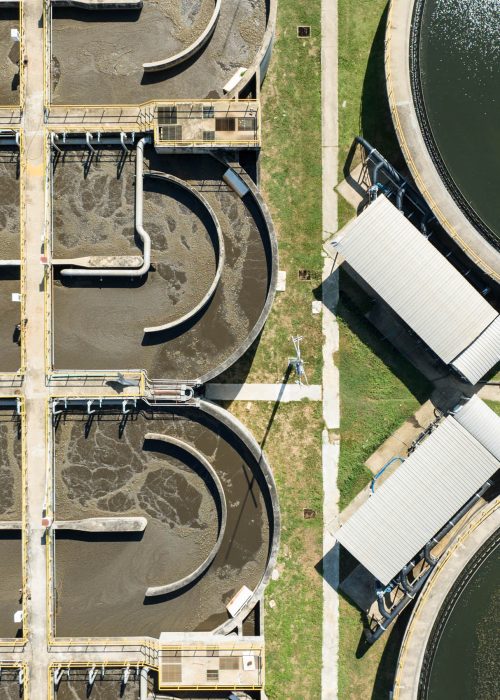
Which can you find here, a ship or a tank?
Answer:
tank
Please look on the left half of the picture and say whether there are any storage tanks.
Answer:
No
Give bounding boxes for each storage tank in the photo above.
[384,0,500,285]
[392,496,500,700]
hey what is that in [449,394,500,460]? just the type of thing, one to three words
building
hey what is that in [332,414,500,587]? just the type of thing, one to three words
building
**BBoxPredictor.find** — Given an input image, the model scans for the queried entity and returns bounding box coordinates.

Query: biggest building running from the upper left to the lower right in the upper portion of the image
[334,194,499,364]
